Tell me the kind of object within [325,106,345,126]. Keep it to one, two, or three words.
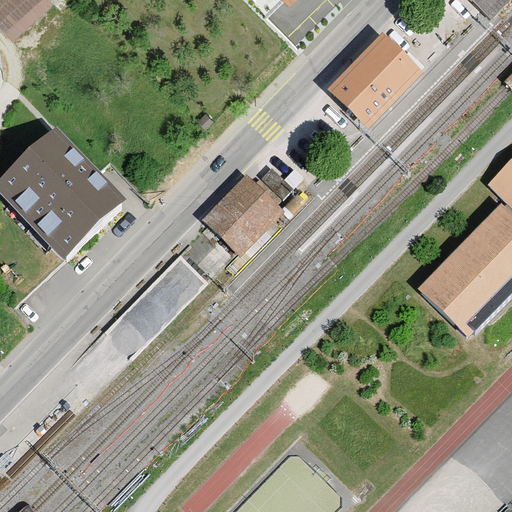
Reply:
vehicle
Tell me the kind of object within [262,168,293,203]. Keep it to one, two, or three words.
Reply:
building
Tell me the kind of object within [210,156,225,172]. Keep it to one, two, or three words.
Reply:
car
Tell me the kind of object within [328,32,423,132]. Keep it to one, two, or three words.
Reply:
building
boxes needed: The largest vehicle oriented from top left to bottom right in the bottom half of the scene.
[21,304,38,322]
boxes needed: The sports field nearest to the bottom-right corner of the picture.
[400,458,508,512]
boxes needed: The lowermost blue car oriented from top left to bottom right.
[274,158,290,174]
